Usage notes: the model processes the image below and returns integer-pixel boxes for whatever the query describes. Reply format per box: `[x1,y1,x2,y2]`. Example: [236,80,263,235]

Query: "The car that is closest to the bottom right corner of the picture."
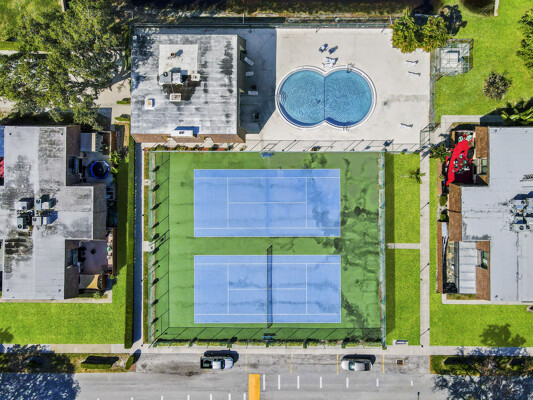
[341,358,372,373]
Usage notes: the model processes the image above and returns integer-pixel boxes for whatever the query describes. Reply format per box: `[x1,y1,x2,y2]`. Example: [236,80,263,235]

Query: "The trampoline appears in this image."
[91,159,110,179]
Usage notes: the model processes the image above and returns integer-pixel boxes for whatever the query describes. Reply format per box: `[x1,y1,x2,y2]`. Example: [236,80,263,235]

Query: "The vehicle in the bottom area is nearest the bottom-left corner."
[200,354,234,370]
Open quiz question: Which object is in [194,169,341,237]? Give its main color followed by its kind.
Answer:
blue tennis court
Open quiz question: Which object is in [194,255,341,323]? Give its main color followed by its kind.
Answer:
blue tennis court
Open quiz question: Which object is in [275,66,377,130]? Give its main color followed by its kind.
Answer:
blue swimming pool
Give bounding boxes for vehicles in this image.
[200,354,234,370]
[341,358,372,373]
